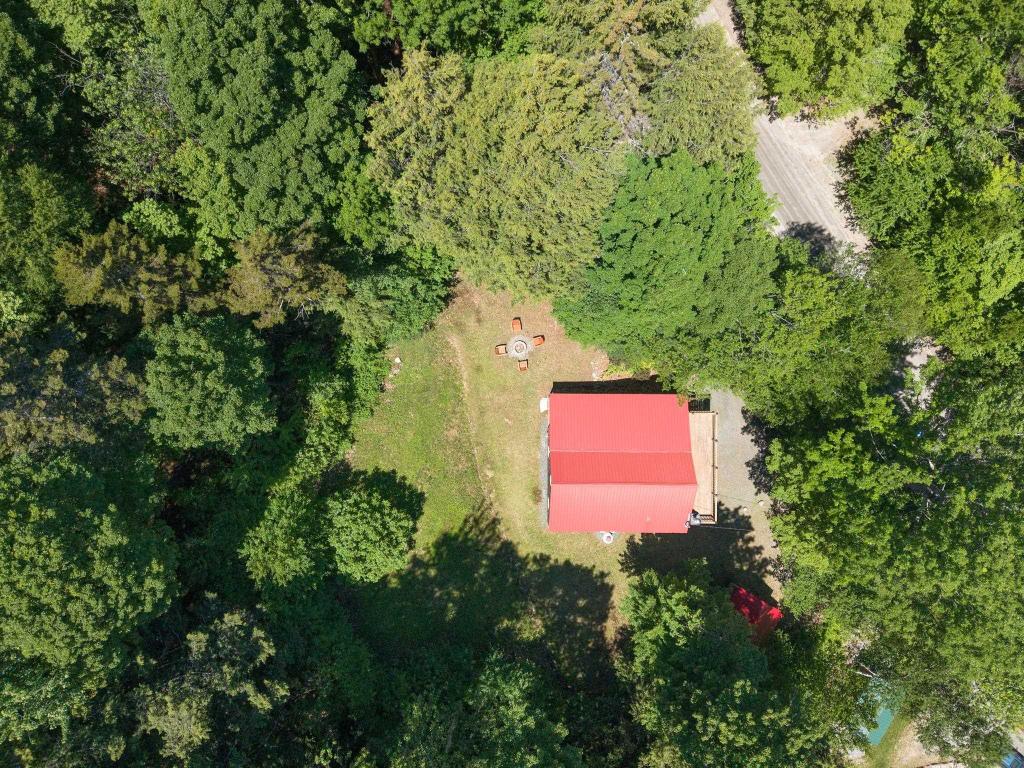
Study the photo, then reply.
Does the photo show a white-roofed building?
No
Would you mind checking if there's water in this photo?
No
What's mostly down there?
trees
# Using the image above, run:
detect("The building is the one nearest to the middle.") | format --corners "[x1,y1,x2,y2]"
[549,393,697,533]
